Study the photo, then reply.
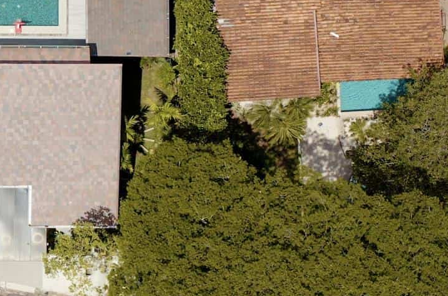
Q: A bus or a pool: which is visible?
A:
pool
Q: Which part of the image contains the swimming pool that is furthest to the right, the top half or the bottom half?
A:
top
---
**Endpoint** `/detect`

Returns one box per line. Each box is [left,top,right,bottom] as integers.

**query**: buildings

[212,0,445,103]
[0,45,123,228]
